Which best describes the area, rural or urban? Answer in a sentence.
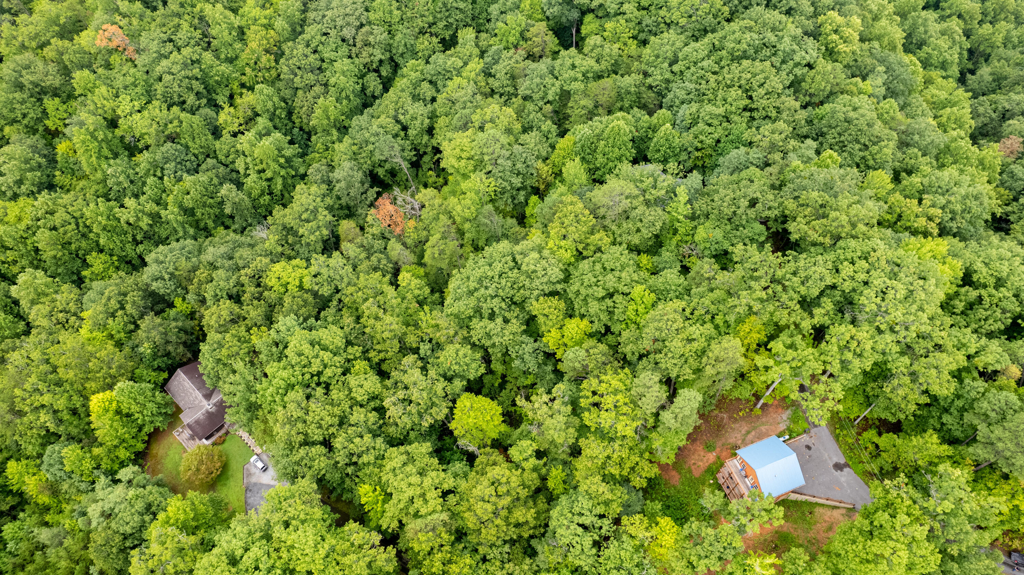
The land in this view is best described as rural.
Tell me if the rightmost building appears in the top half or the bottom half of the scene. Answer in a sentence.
It is in the bottom half that the rightmost building appears.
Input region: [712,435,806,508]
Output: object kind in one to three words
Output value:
building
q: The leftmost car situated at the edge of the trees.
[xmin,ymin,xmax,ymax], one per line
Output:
[251,456,267,472]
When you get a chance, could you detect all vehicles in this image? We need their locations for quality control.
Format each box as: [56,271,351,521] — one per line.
[1013,554,1024,565]
[251,456,267,472]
